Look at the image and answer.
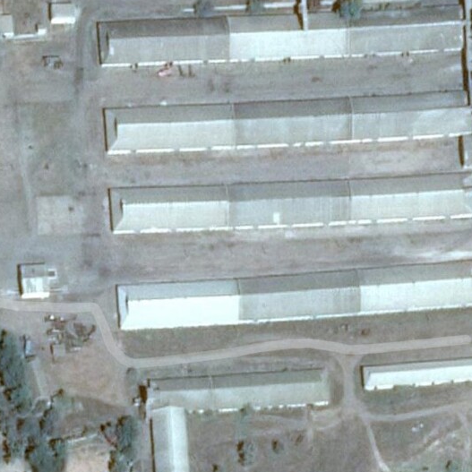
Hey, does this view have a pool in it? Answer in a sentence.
No, I can see no pool in this picture.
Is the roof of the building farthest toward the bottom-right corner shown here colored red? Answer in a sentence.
No, the roof of the building farthest toward the bottom-right corner is white.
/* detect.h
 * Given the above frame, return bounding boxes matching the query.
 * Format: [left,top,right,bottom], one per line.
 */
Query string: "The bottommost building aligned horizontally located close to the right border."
[362,357,472,387]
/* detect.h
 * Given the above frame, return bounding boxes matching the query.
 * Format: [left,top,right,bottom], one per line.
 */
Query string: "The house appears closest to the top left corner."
[0,15,14,39]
